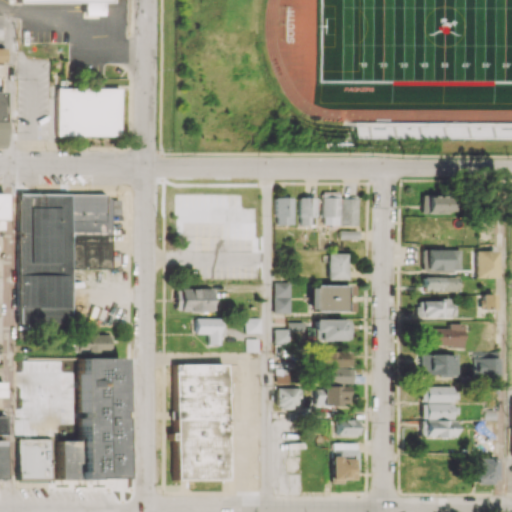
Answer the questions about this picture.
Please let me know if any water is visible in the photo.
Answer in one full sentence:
No, there is no water in the image.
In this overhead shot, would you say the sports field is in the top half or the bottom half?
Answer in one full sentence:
Seen from above, the sports field lies in the top half of the view.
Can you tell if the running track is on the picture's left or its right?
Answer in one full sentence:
The running track appears in the right half of the scene.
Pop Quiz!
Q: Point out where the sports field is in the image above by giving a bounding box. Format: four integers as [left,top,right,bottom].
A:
[317,0,512,110]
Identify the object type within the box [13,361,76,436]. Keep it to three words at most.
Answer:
building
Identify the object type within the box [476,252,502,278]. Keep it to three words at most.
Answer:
building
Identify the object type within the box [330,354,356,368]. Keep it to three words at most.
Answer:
house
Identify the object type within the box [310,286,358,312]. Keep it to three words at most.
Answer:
house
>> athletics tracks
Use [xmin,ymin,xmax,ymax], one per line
[266,0,512,121]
